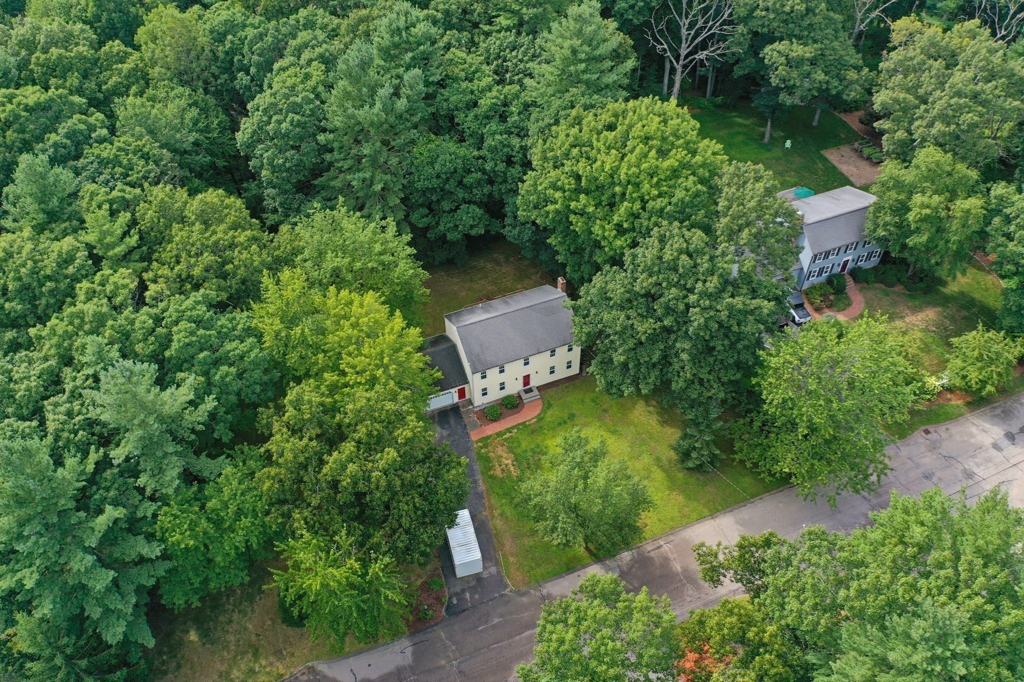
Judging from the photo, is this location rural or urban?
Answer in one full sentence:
From above, the setting appears rural.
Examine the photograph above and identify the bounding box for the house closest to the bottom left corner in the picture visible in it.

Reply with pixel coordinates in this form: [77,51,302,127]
[420,276,581,412]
